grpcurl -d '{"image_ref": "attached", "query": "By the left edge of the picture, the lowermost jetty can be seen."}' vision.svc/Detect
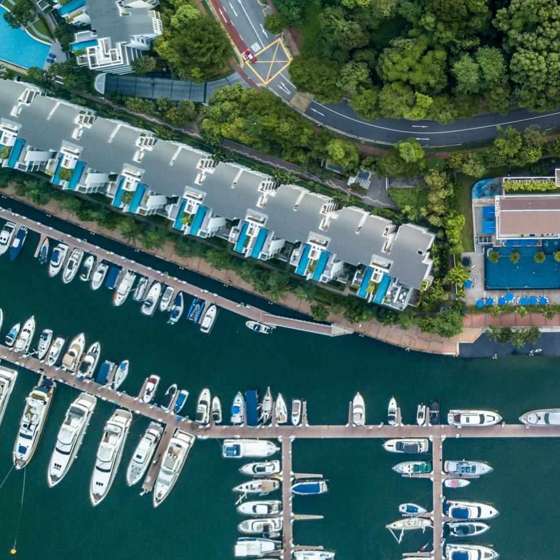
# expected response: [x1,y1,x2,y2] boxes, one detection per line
[0,345,203,492]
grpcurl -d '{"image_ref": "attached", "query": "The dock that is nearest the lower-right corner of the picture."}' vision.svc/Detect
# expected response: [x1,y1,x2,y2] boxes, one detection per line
[402,438,499,560]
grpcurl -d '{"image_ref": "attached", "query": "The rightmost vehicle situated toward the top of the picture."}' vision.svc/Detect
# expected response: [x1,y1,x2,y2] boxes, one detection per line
[238,48,256,61]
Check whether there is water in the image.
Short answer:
Yes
